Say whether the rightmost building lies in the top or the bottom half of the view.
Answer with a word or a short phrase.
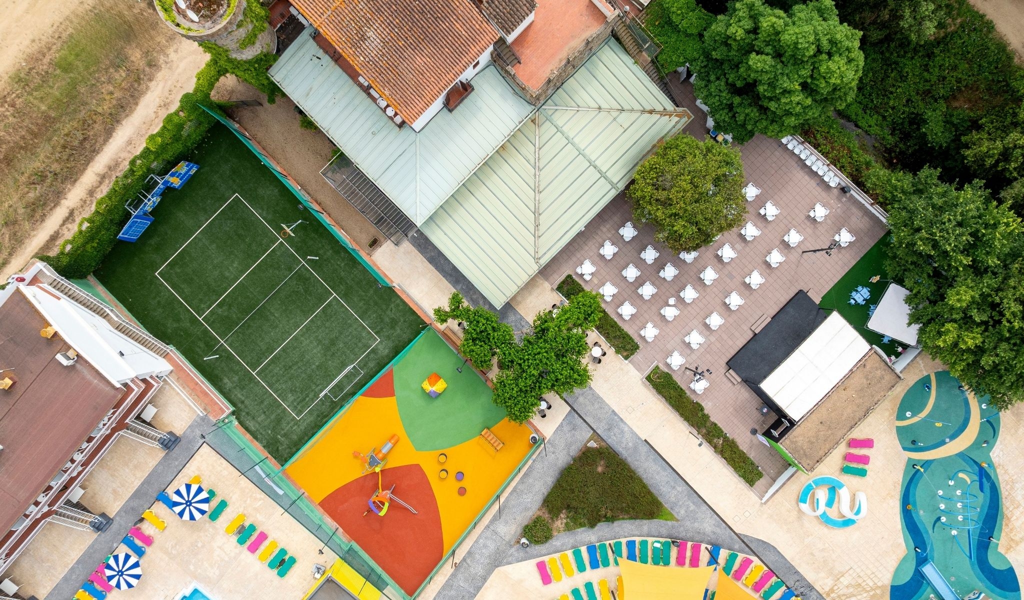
bottom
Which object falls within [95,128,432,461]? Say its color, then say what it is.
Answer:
green sports court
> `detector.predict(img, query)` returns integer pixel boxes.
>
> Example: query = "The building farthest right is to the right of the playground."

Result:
[743,310,905,477]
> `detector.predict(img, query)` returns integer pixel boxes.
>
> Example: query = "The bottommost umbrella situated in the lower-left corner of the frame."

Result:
[103,551,140,588]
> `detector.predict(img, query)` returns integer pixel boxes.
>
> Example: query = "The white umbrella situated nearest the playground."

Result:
[174,482,211,519]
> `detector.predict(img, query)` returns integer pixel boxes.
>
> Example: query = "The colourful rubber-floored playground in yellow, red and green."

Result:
[286,330,540,595]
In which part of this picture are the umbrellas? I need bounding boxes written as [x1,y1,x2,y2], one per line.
[103,551,140,588]
[174,482,211,519]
